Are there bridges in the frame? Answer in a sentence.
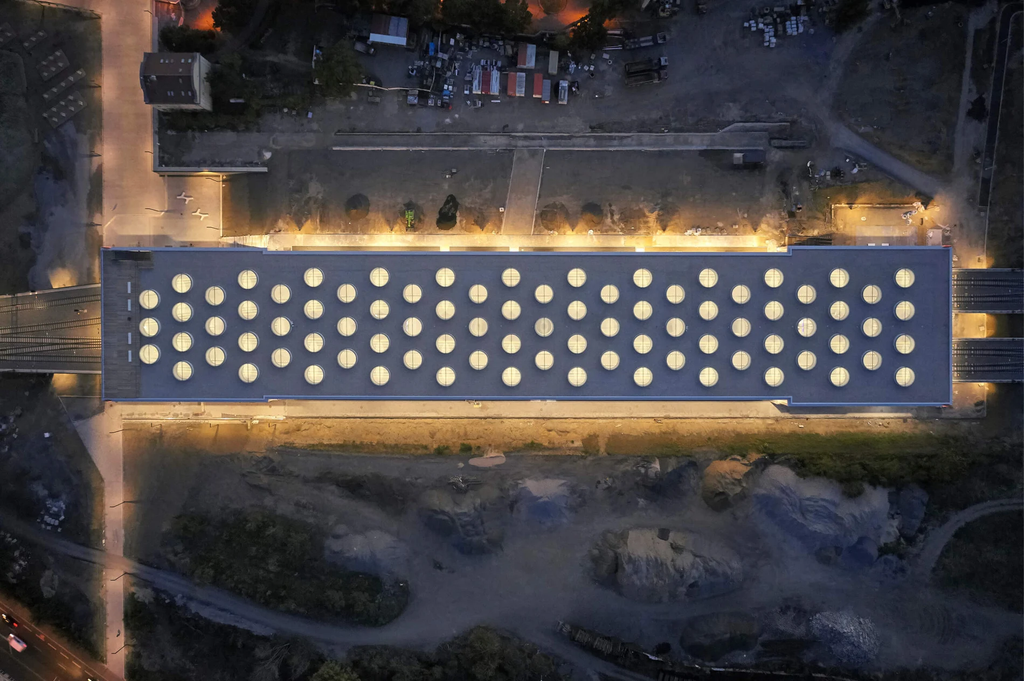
Yes, a bridge can be made out from above.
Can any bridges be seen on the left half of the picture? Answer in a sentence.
Yes, a bridge is visible on the left half of the picture.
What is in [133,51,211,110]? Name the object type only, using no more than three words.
house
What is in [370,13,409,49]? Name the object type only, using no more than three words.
shed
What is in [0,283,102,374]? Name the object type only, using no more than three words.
bridge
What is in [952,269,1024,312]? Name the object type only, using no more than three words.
bridge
